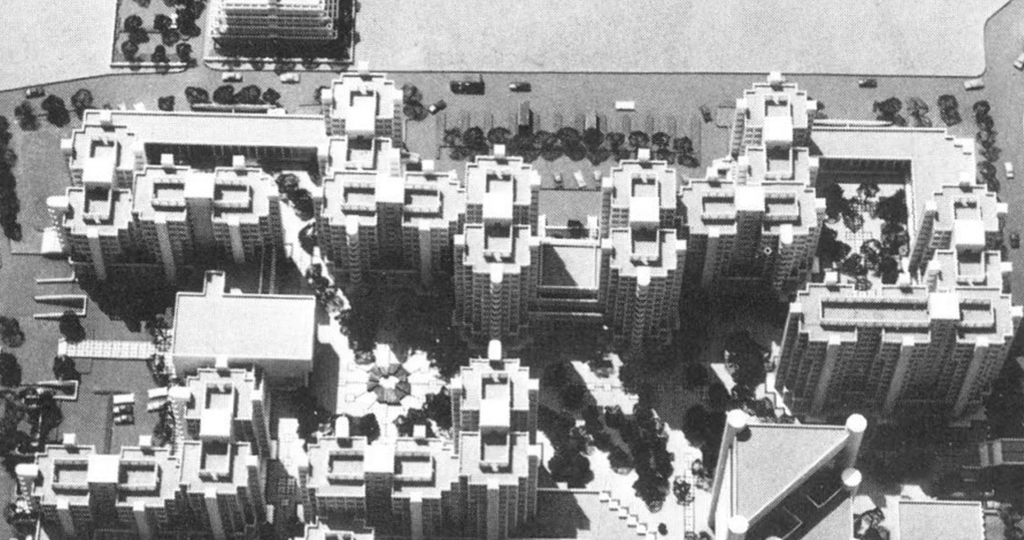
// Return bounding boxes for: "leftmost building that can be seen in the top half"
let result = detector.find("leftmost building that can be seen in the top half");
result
[49,115,148,282]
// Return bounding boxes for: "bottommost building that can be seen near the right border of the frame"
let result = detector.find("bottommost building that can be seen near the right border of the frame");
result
[896,502,987,540]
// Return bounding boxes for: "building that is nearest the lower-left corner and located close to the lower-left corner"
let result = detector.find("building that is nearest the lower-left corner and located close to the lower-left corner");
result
[16,434,186,540]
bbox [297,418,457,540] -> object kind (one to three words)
building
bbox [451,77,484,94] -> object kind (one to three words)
vehicle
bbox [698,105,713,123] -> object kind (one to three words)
car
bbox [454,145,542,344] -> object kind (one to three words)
building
